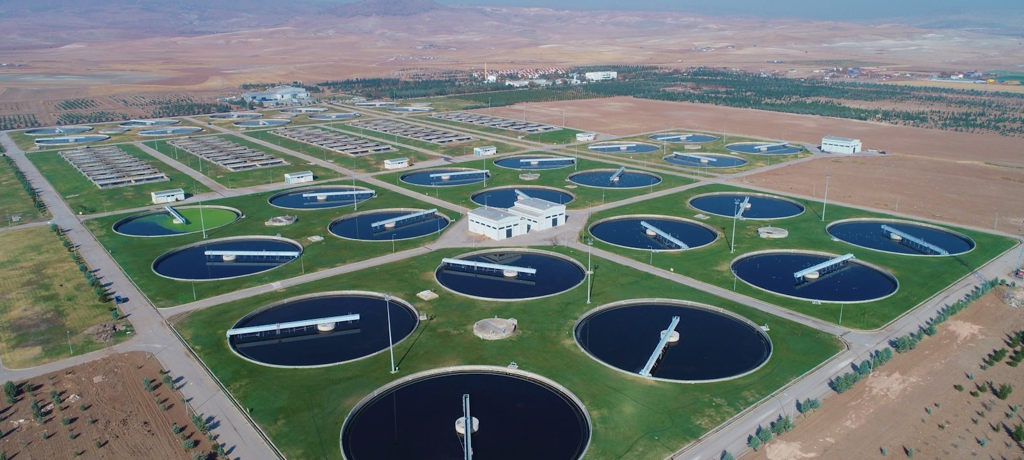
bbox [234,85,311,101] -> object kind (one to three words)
building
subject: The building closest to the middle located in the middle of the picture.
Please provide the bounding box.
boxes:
[470,197,567,240]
